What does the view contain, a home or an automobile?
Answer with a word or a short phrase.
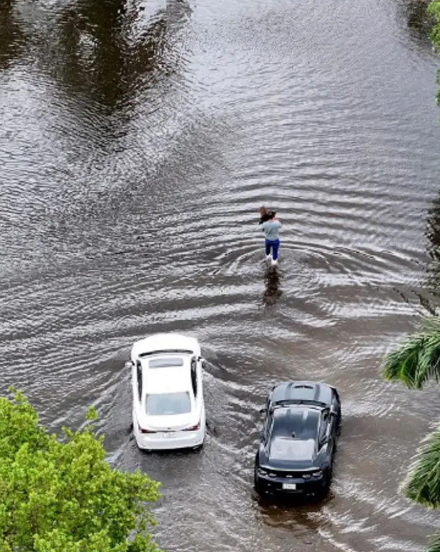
automobile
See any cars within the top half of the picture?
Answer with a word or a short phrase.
No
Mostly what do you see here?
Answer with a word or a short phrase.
water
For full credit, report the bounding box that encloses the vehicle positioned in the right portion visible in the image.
[255,377,344,500]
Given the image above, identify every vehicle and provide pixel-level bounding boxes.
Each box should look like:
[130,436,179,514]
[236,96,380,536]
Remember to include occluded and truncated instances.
[125,328,204,446]
[255,377,344,500]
